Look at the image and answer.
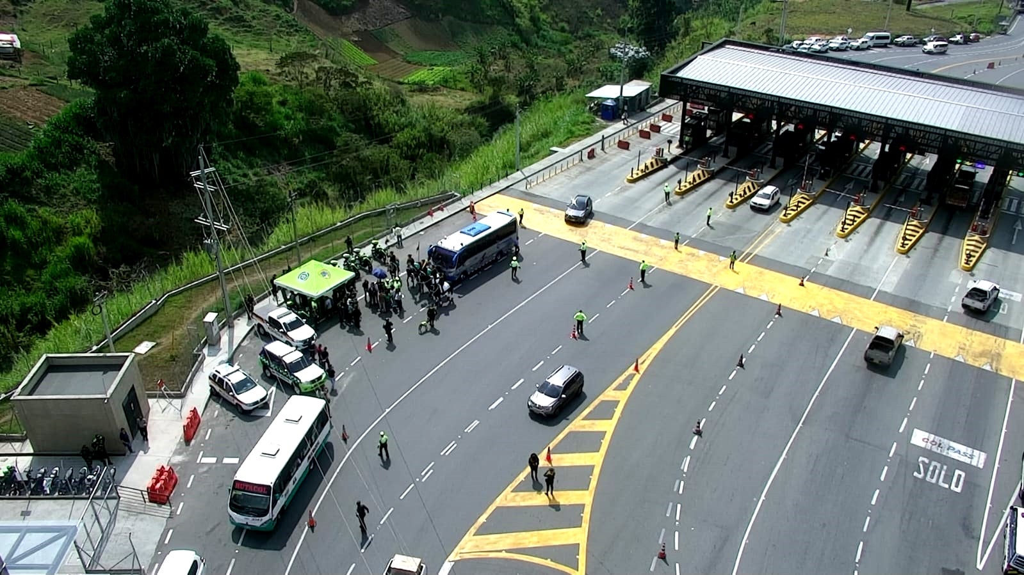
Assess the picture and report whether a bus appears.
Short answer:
Yes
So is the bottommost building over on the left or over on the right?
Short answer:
left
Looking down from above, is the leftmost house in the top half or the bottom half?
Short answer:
top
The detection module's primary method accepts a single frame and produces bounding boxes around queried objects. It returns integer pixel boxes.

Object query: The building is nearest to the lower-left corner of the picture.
[11,352,149,454]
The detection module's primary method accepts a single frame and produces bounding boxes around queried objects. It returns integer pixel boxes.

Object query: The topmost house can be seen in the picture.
[0,32,30,61]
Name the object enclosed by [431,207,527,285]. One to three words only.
bus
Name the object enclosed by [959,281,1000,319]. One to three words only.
truck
